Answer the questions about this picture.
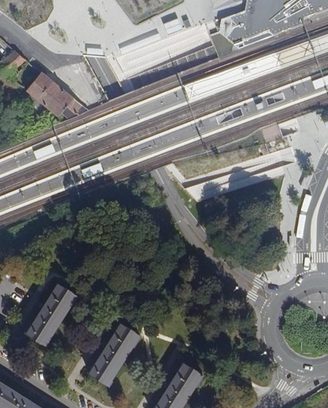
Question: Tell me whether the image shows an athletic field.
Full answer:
No, there's no athletic field here.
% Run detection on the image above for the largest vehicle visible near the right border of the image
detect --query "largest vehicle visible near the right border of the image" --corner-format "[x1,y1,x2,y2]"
[296,194,314,238]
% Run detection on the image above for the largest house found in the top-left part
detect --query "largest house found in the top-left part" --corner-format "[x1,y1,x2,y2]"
[26,72,75,117]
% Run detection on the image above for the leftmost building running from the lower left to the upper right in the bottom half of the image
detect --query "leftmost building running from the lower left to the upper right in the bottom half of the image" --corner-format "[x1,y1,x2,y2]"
[26,284,76,347]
